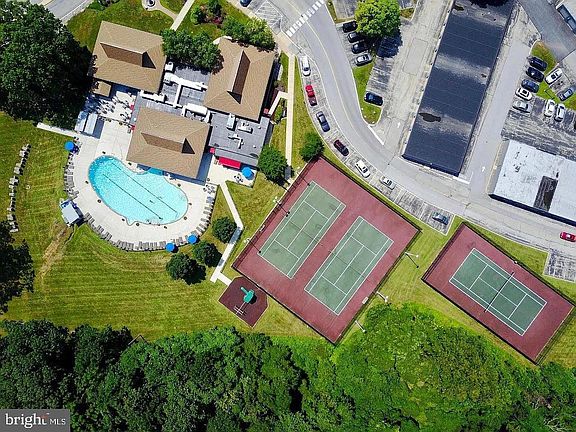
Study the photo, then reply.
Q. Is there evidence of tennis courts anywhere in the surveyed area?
Yes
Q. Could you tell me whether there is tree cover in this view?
Yes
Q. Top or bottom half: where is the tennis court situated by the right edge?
bottom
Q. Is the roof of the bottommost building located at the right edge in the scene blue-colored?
No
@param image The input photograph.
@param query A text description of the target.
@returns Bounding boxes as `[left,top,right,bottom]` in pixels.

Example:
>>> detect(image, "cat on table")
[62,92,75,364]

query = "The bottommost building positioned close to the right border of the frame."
[486,139,576,225]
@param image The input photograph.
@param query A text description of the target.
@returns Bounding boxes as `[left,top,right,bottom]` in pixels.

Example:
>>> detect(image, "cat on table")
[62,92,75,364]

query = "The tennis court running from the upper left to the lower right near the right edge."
[424,225,576,362]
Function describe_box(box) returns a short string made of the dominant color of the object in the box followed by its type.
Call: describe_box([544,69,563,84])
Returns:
white car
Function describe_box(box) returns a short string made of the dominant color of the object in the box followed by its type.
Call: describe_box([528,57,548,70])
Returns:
black vehicle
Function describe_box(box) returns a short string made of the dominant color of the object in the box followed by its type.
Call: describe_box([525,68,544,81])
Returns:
black vehicle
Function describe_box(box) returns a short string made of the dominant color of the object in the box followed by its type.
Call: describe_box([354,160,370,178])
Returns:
white car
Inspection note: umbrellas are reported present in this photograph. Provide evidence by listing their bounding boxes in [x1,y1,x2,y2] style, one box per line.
[166,242,176,253]
[188,234,198,244]
[242,166,253,178]
[65,141,76,151]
